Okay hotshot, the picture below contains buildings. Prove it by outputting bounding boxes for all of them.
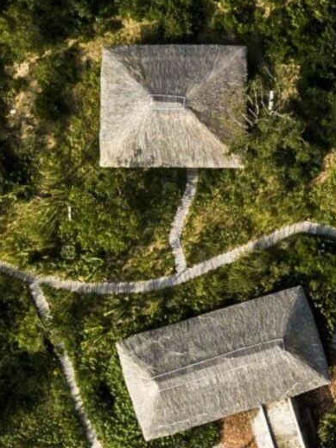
[98,45,248,169]
[115,288,329,441]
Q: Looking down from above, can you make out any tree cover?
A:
Yes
